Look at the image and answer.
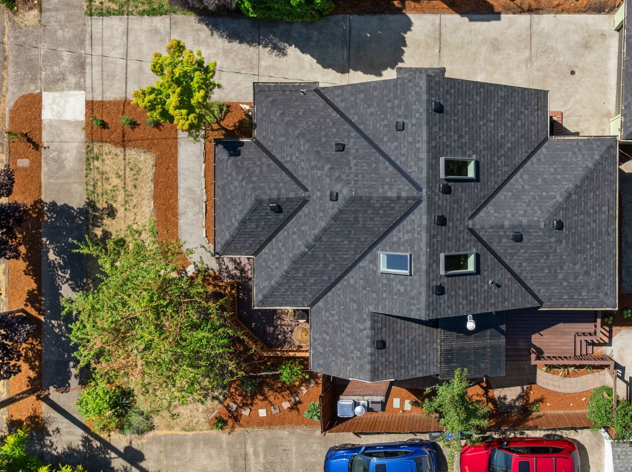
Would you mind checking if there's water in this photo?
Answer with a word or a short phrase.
No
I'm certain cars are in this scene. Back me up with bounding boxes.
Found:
[324,440,440,472]
[461,437,580,472]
